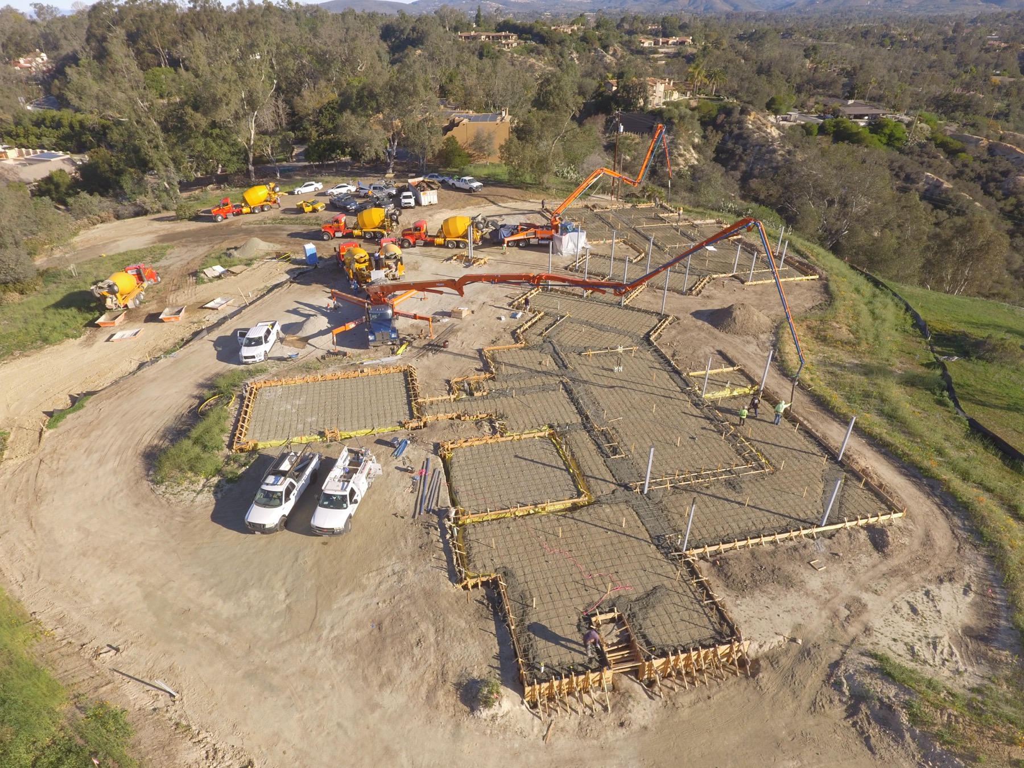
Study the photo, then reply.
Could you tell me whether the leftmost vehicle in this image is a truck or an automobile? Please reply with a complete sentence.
The leftmost vehicle is a truck.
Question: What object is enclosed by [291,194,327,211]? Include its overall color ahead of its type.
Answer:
yellow vehicle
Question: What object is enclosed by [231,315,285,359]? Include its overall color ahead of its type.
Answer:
white truck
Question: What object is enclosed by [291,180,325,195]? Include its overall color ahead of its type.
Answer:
white car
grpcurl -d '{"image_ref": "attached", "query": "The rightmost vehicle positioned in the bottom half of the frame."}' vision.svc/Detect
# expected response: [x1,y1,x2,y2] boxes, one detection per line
[312,432,399,533]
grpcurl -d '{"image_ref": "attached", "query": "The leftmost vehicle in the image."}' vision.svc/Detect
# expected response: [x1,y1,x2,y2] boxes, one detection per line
[88,253,164,307]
